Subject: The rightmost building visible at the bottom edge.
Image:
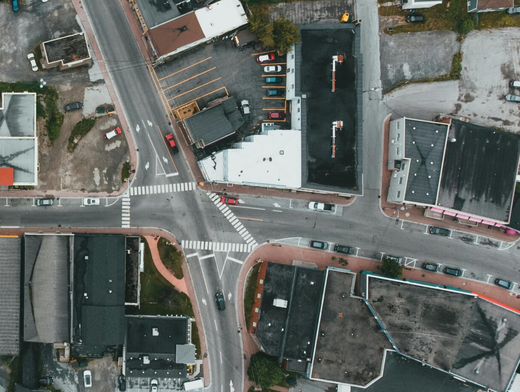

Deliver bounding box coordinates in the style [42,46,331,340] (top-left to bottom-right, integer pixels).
[352,270,520,392]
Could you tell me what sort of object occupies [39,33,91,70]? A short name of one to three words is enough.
building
